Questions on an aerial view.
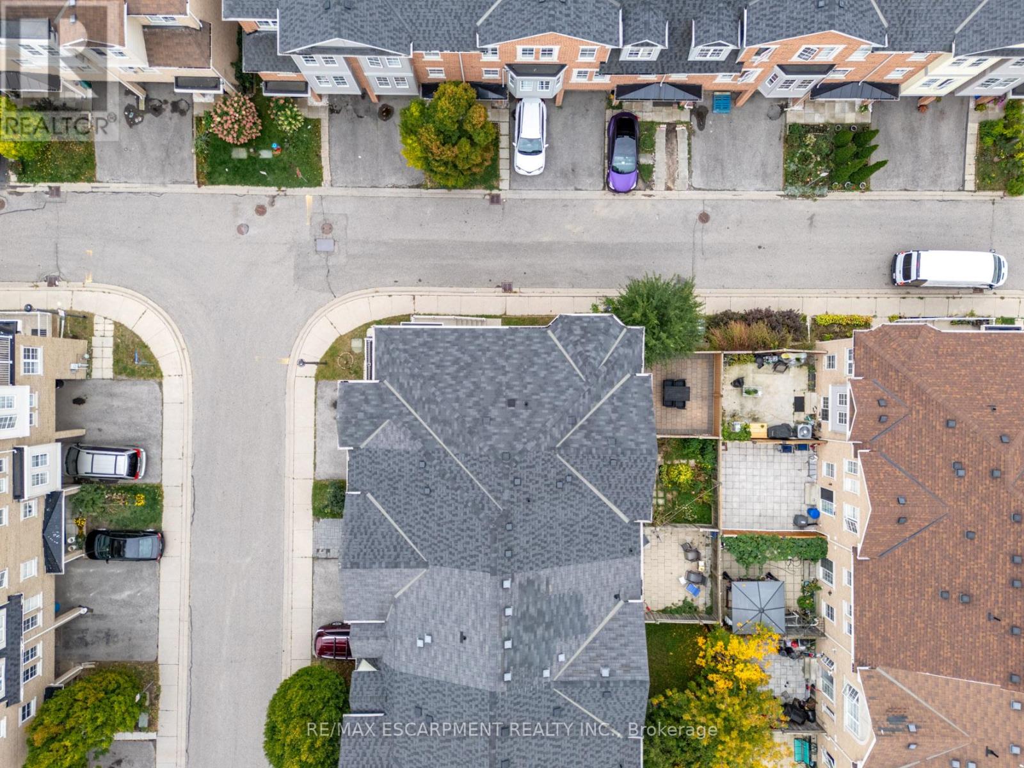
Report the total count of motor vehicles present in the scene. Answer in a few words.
6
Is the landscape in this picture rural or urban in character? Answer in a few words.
urban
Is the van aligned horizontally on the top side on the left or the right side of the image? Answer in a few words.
right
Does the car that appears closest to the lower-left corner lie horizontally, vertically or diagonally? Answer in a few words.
horizontally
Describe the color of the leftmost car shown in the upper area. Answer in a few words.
white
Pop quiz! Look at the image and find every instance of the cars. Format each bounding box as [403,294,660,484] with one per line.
[511,98,550,174]
[604,112,643,194]
[316,615,349,654]
[64,441,148,482]
[82,526,163,565]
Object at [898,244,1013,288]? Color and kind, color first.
white van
